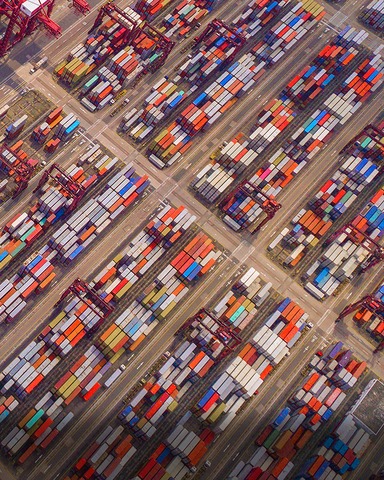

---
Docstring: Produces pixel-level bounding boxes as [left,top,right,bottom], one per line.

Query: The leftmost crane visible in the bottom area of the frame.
[55,278,114,330]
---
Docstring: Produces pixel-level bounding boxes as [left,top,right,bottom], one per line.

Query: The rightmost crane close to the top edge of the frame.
[193,17,249,67]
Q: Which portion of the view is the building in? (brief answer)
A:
bottom right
